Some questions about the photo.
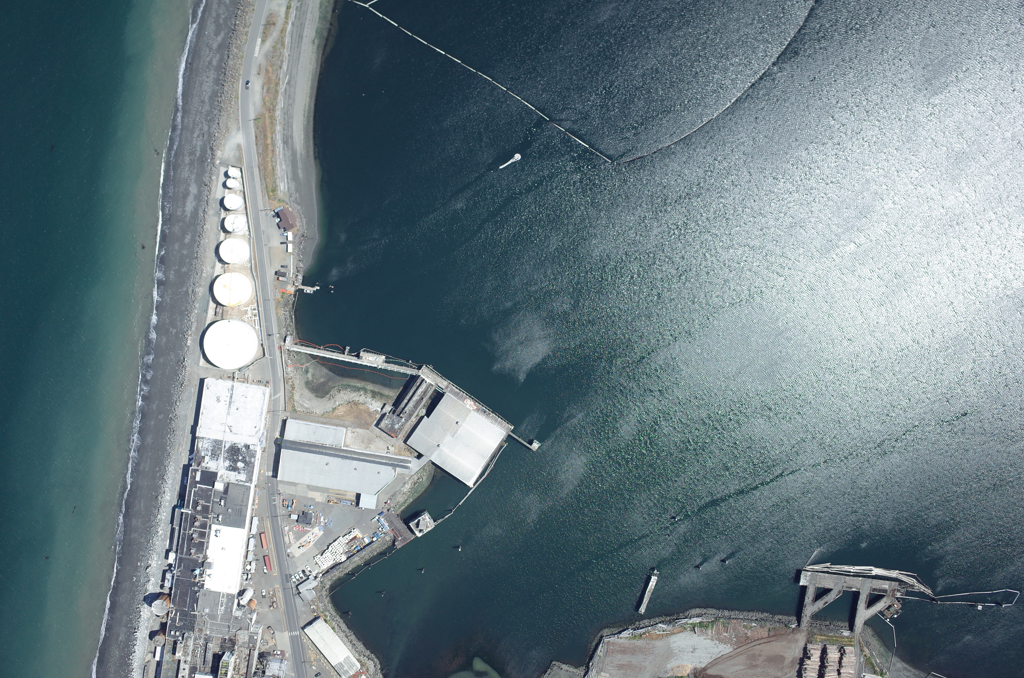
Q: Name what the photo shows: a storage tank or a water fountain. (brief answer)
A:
storage tank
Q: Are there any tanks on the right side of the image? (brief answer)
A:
No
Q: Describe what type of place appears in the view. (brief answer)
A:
port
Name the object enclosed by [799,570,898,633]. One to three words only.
pier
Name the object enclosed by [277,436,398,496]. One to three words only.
building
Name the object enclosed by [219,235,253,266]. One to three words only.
storage tank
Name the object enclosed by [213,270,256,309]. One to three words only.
storage tank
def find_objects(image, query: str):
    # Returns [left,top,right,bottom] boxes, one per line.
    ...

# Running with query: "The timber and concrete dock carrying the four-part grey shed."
[407,366,513,485]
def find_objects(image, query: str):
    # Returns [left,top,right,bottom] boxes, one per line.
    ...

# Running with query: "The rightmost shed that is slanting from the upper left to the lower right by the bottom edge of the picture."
[304,617,363,678]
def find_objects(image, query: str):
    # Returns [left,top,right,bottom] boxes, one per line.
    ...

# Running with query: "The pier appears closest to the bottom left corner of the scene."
[381,508,415,548]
